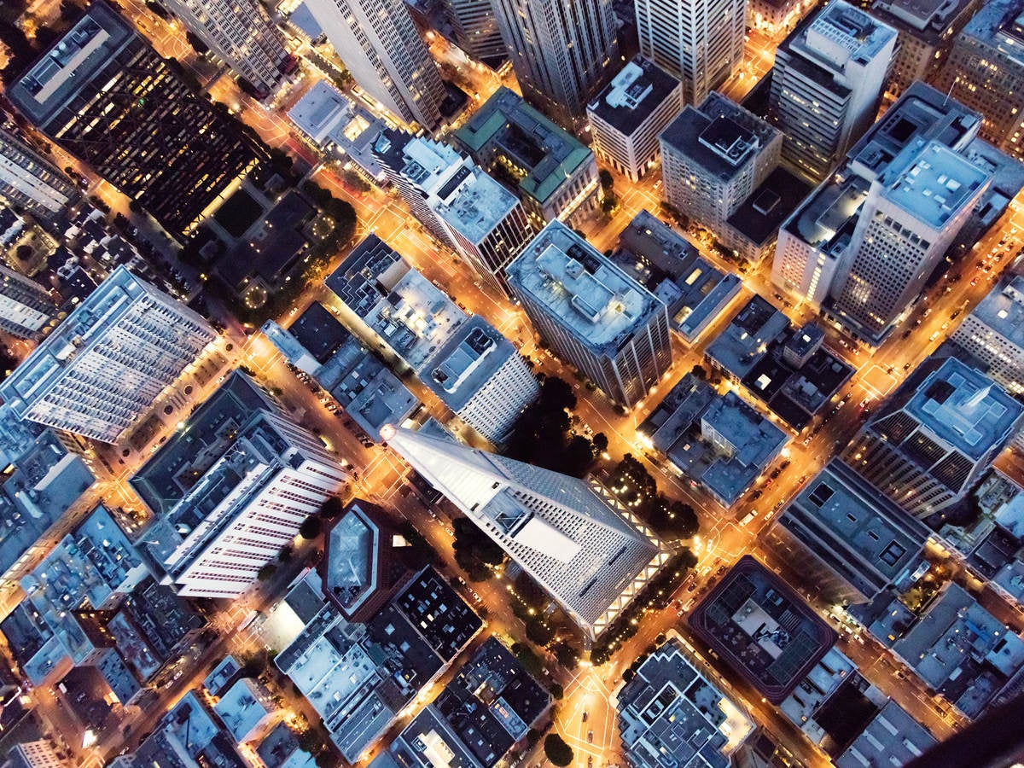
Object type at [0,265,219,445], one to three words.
building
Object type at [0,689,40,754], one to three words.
building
